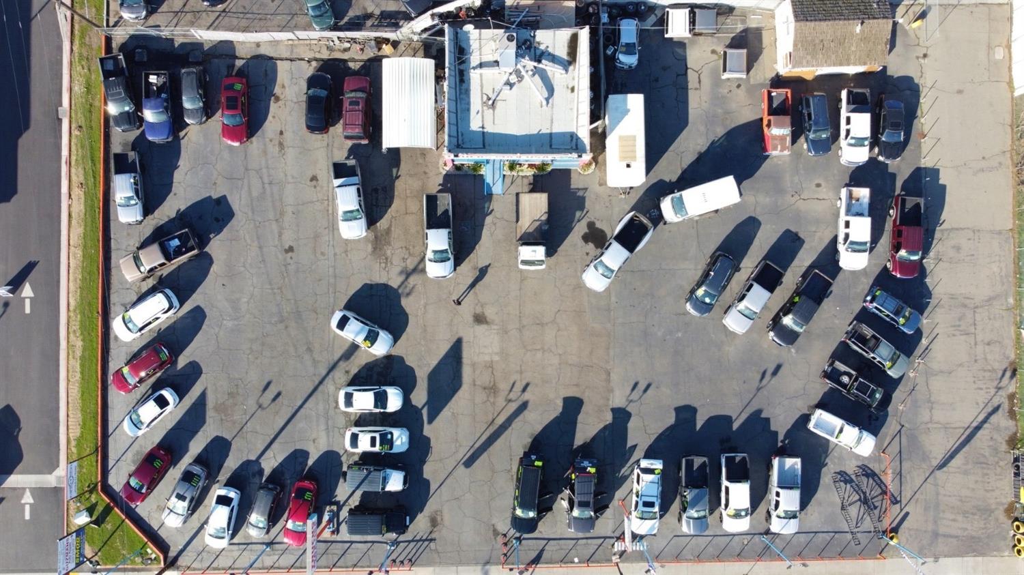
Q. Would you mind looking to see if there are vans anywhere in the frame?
Yes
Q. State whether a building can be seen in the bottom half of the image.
No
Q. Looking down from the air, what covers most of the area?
paved ground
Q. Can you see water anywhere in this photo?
No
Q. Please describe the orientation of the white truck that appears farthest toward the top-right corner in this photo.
vertically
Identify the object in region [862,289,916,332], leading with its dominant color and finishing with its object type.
blue car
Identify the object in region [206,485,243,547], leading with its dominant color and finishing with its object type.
white car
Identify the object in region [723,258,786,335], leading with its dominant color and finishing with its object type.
white truck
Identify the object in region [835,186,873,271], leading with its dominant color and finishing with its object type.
white truck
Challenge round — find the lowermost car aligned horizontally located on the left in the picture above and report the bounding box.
[344,506,409,538]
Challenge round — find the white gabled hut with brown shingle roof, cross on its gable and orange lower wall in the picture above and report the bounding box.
[777,0,895,78]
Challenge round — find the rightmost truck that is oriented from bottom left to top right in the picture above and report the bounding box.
[771,268,837,347]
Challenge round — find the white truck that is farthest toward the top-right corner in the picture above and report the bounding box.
[837,87,874,168]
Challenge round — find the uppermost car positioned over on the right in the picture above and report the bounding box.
[614,19,641,71]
